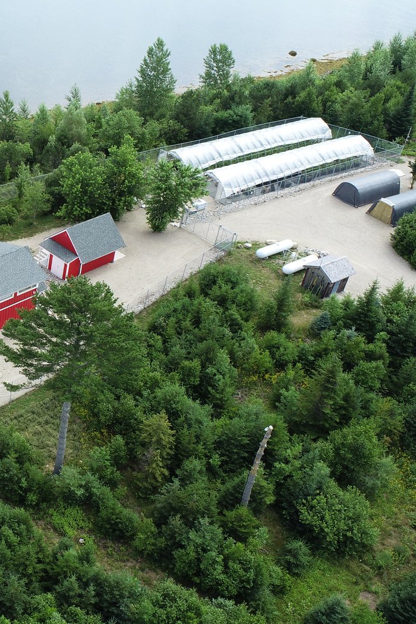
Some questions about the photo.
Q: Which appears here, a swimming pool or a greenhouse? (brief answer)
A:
greenhouse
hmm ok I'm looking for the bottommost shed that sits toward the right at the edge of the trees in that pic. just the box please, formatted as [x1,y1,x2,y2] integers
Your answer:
[301,258,354,298]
